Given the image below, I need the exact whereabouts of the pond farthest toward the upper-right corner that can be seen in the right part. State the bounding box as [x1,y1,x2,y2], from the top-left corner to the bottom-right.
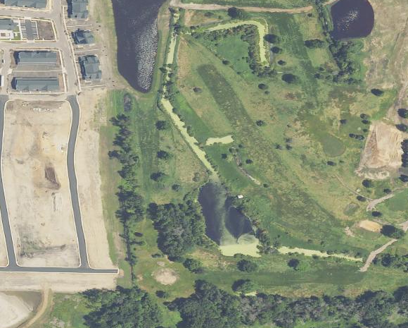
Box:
[331,0,375,40]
